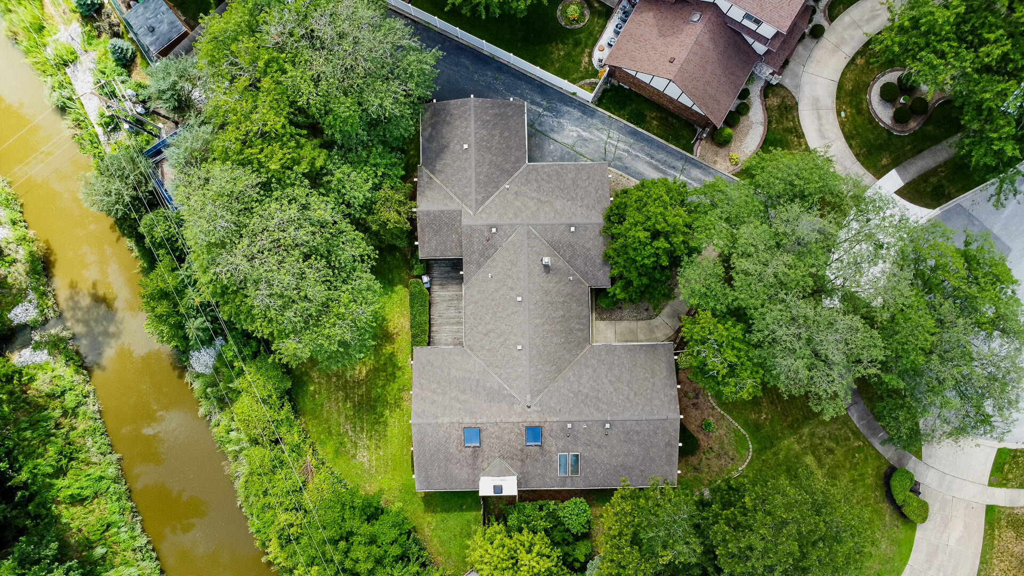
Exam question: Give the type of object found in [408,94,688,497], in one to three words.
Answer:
house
